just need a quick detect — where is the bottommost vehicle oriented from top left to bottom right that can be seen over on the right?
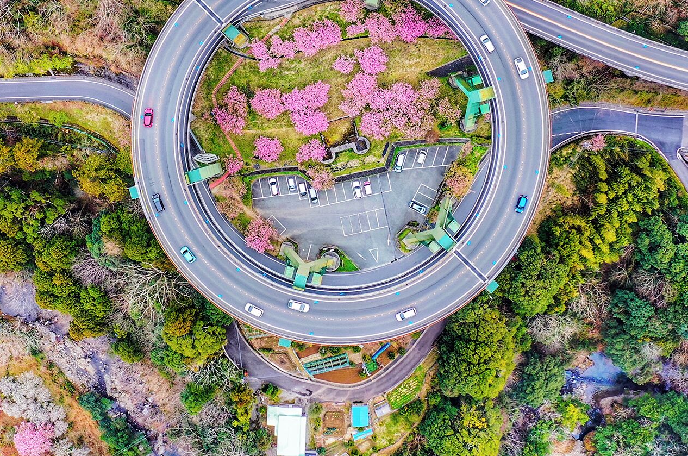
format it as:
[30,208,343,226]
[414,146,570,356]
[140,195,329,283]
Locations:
[408,200,426,215]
